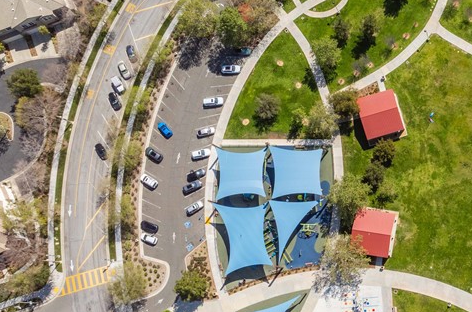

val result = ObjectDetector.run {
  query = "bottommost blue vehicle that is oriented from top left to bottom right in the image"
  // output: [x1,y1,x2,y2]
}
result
[158,122,174,139]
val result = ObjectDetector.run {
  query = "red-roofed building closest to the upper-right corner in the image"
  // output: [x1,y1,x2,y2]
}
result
[357,87,410,140]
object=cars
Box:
[203,97,224,107]
[222,64,242,74]
[191,149,211,159]
[237,47,254,56]
[197,128,217,137]
[108,92,122,111]
[183,182,203,194]
[118,61,132,80]
[94,142,108,162]
[158,122,174,139]
[184,201,204,215]
[140,221,161,233]
[146,147,164,163]
[110,76,126,95]
[140,234,161,245]
[188,169,208,179]
[125,44,138,64]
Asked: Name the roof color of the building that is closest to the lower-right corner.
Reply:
red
